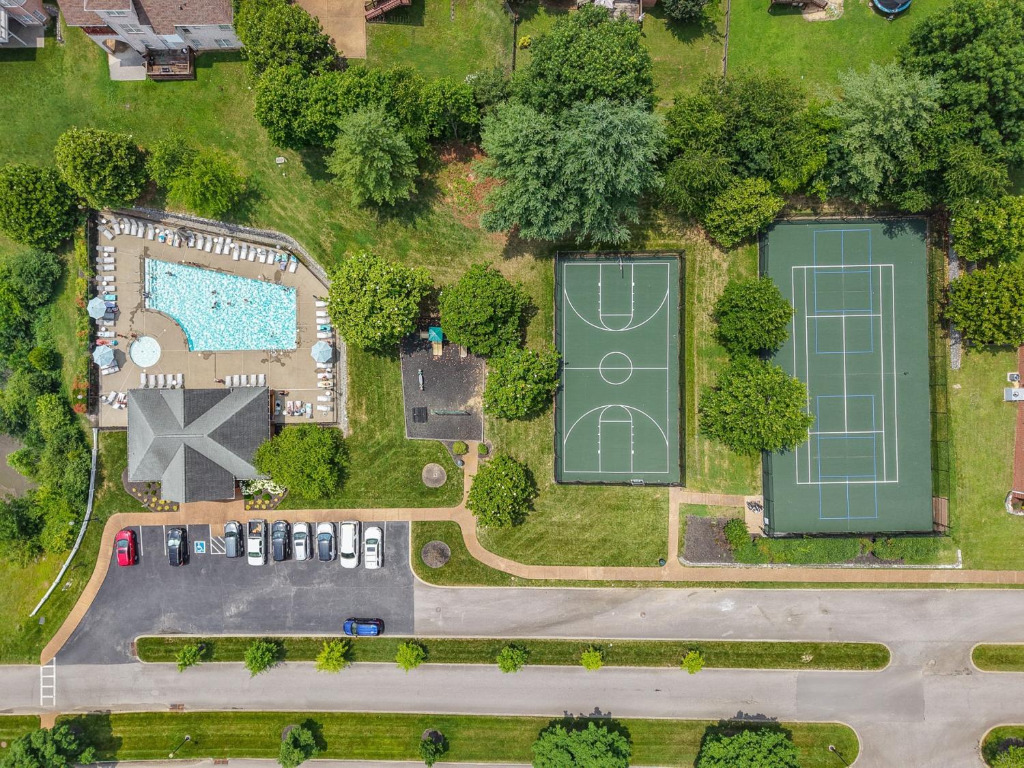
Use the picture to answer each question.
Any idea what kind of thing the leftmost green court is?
basketball court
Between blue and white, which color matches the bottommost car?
blue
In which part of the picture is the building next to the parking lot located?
left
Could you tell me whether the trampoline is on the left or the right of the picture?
right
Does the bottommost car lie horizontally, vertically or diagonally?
horizontally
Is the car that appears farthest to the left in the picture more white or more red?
red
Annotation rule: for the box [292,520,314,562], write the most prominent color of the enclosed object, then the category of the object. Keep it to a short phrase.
white car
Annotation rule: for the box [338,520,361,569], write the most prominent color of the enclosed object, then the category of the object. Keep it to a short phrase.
white car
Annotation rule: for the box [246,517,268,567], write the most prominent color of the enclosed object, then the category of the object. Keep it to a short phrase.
white truck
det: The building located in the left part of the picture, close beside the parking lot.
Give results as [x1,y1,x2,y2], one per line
[127,388,274,504]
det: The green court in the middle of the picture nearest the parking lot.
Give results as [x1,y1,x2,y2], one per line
[556,256,678,483]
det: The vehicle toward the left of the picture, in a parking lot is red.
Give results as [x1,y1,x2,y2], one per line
[113,526,139,568]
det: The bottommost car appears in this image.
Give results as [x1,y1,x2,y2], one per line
[344,616,386,638]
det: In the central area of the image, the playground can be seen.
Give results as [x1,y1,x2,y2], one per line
[401,328,485,440]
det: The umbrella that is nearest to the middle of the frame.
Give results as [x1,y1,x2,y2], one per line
[312,341,332,361]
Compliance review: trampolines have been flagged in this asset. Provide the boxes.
[873,0,914,22]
